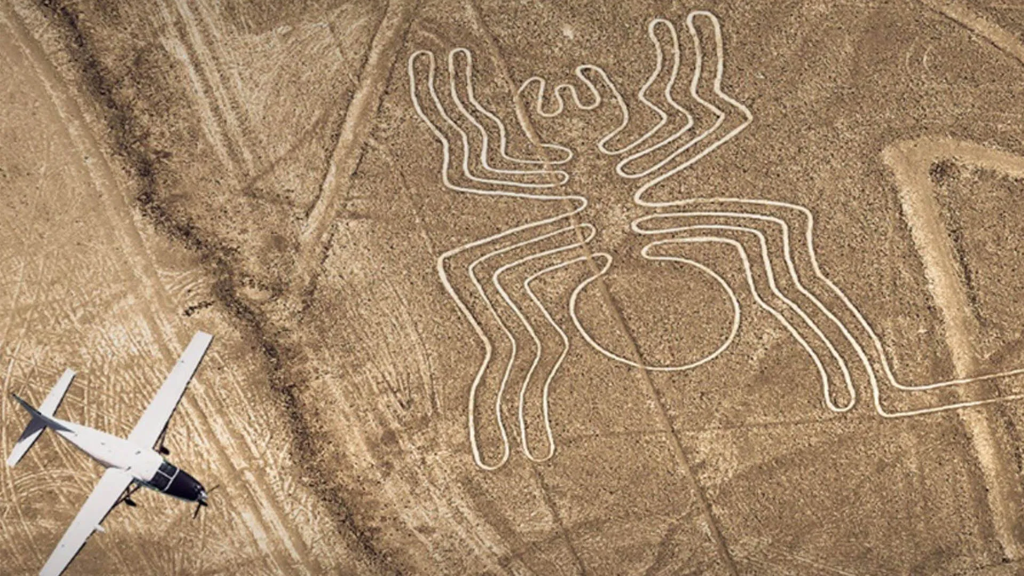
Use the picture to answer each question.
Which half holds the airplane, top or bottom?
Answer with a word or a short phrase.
bottom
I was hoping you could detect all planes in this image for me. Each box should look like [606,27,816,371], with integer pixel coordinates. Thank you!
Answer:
[4,329,216,576]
